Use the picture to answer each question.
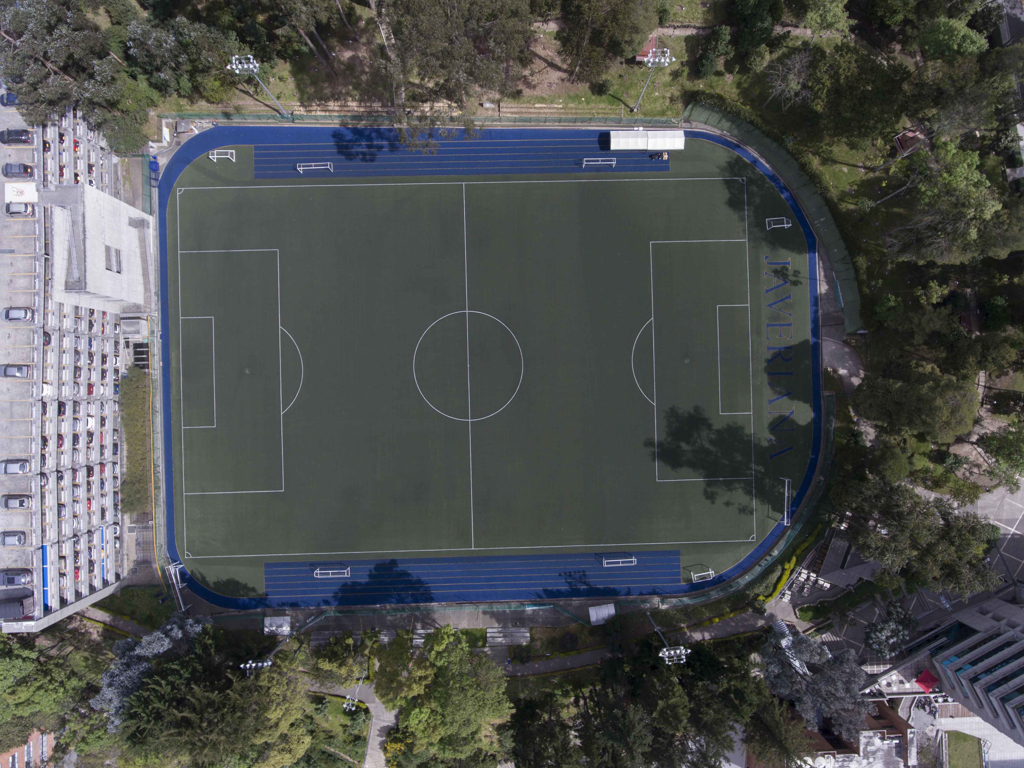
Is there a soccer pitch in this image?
Yes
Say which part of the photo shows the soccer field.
center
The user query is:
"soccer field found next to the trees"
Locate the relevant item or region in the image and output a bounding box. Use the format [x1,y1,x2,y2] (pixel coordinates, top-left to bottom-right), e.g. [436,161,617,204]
[167,138,813,598]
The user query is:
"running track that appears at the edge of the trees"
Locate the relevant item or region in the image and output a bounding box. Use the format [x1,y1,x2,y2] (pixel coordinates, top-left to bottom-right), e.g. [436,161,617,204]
[158,126,822,609]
